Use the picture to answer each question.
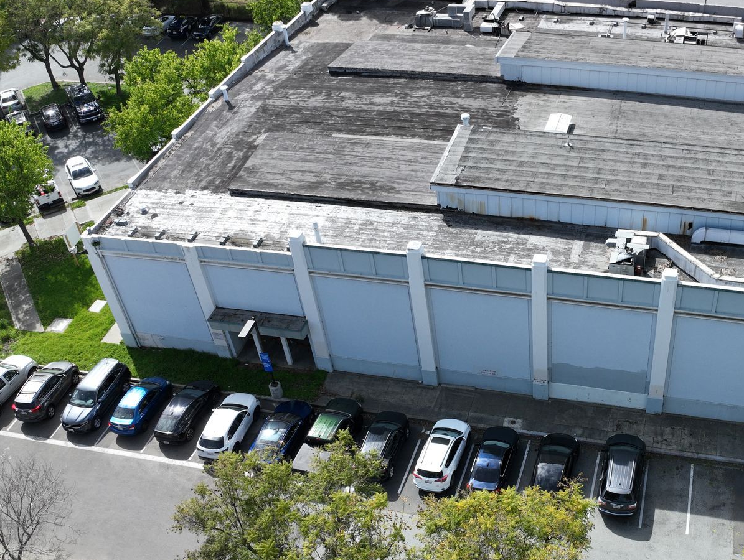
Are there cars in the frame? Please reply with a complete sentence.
Yes, there is a car in the image.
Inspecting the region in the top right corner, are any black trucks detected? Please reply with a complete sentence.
No, I see no black truck in the top right corner.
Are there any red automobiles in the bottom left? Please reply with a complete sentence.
No, no red automobile can be made out in the bottom left.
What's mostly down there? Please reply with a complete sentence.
The bulk of the photo consists of buildings.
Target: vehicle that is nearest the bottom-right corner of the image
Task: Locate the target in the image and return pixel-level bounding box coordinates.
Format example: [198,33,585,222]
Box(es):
[597,441,644,516]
